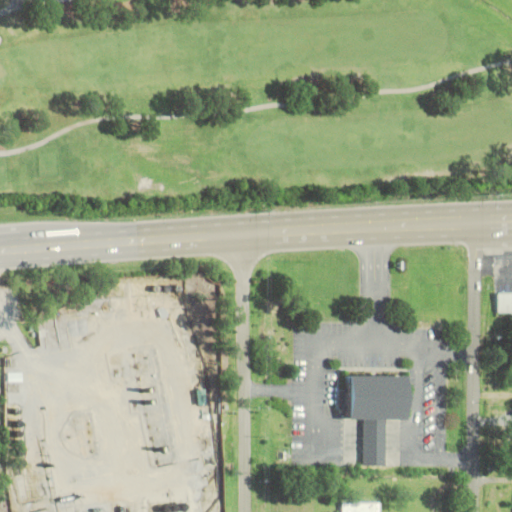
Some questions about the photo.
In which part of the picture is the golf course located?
top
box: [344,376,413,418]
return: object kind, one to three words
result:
building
